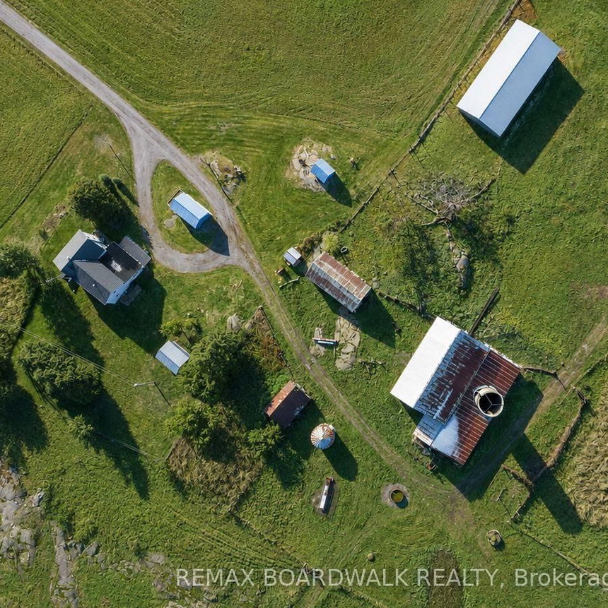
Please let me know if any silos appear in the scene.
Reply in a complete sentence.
Yes, the photo shows a silo.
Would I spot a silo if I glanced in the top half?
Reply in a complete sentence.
No, in the top half there is no silo.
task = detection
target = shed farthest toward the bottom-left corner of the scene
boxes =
[156,338,186,374]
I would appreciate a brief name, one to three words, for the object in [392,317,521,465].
barn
